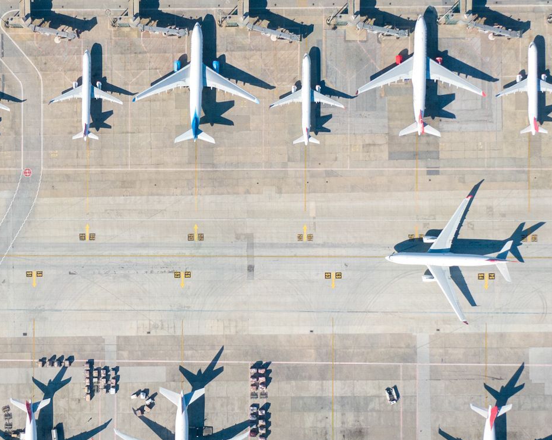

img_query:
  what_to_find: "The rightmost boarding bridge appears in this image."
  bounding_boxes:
[466,21,523,39]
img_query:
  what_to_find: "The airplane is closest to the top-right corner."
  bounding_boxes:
[497,42,552,135]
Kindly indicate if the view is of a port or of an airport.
airport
